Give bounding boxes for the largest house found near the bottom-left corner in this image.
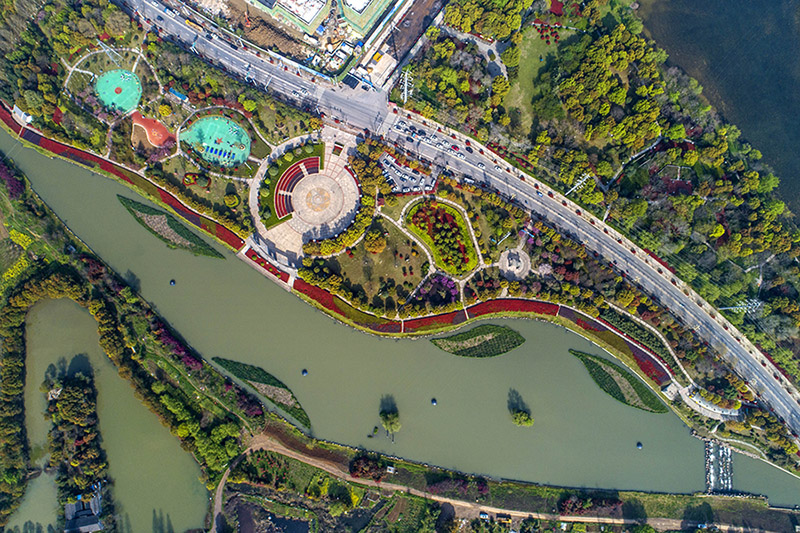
[62,495,105,532]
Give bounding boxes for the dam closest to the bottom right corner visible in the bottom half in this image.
[704,442,734,495]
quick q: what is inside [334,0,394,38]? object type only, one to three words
building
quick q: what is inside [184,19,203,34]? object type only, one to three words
vehicle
